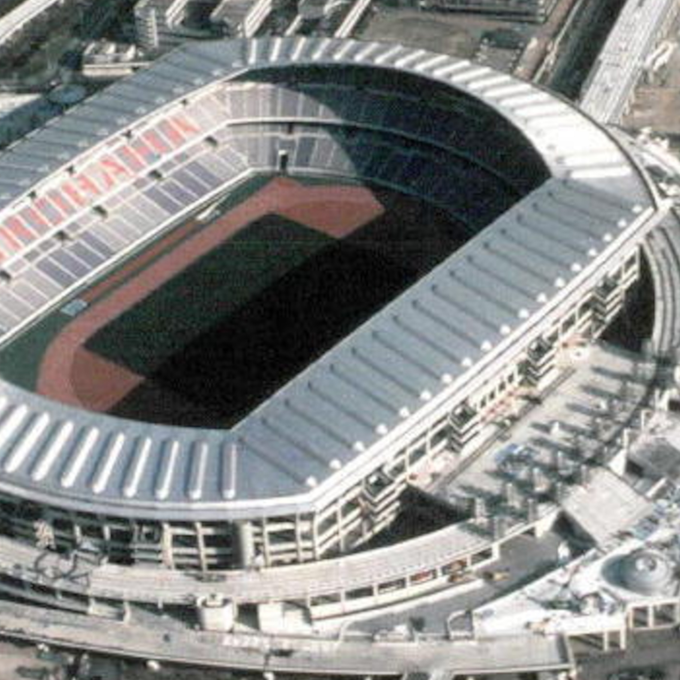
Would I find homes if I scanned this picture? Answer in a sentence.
Yes, this view includes a home.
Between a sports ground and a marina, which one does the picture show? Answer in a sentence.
This looks like a sports ground.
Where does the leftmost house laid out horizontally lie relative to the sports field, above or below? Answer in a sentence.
It's above the sports field that the leftmost house laid out horizontally shows up.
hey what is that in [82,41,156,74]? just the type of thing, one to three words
house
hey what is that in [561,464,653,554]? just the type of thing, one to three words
building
